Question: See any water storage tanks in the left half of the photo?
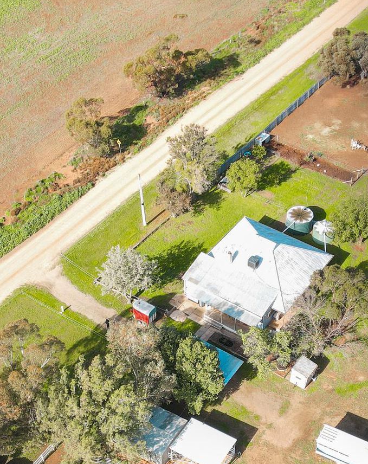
No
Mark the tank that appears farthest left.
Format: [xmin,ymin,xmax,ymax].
[286,206,313,235]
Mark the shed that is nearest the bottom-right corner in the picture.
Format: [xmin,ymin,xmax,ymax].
[289,356,317,390]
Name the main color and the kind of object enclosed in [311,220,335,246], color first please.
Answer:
white water tank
